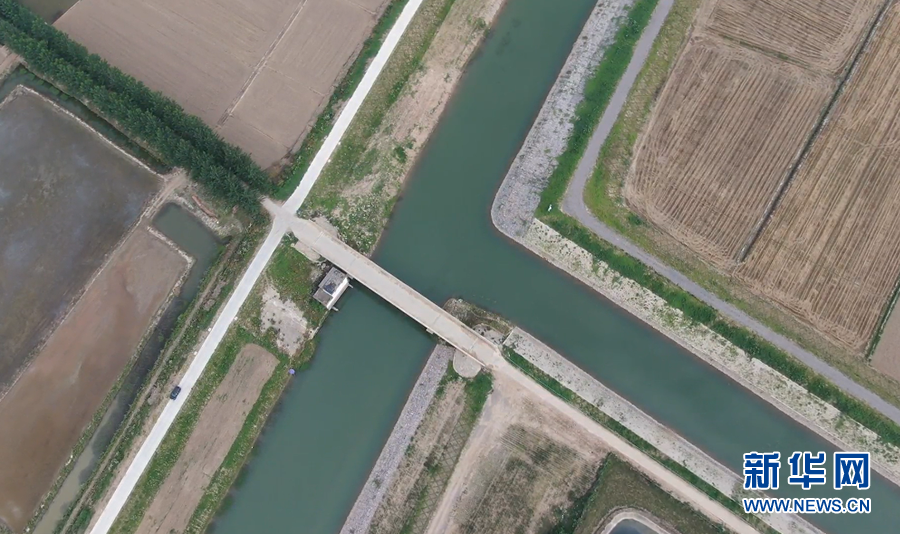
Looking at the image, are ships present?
No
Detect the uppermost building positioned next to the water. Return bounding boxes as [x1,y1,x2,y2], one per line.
[311,267,353,312]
